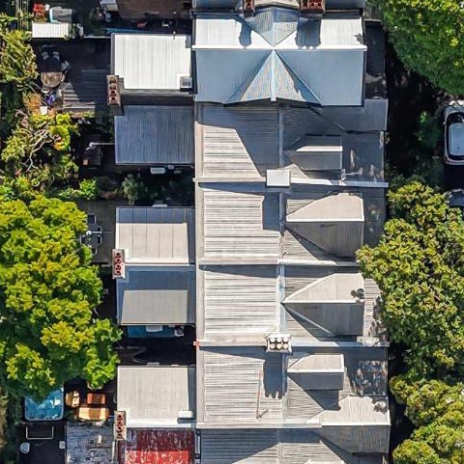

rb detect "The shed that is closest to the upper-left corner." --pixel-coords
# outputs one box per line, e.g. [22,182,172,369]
[32,21,70,42]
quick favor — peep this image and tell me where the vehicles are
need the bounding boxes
[445,187,464,215]
[441,99,464,165]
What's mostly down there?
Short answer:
buildings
